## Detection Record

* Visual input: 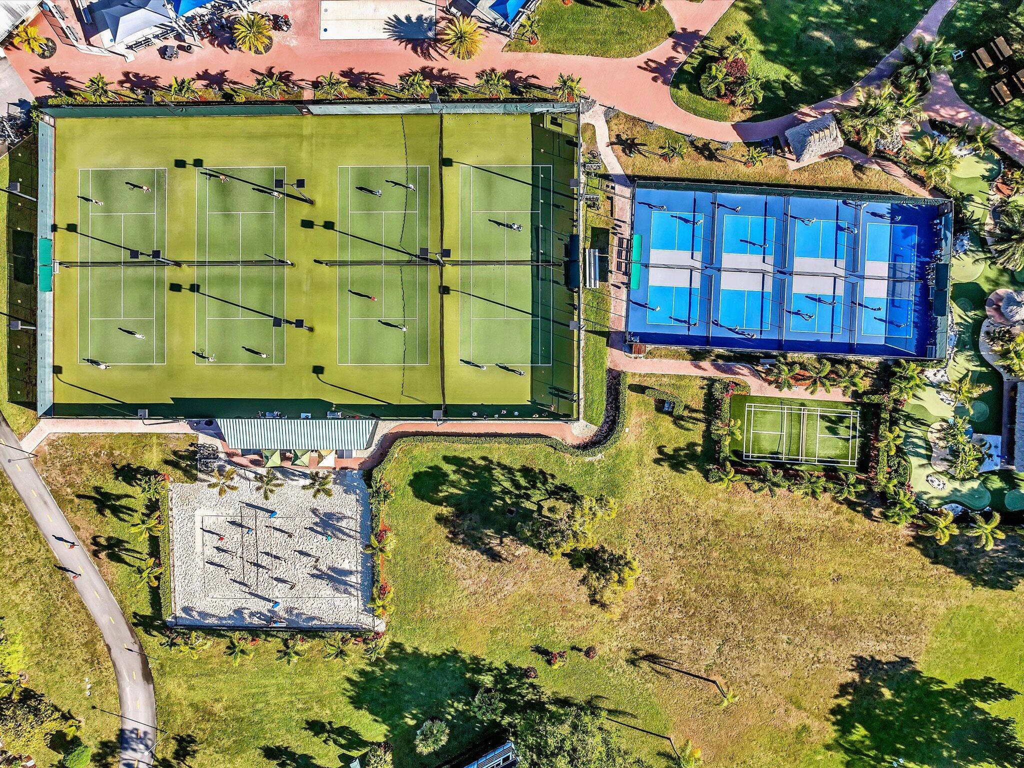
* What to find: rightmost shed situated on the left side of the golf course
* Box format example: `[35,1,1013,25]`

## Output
[781,112,846,166]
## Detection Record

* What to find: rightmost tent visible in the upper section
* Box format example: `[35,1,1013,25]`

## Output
[488,0,531,38]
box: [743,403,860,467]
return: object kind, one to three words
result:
sports court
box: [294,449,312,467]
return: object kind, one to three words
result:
umbrella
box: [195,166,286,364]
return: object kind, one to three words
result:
tennis court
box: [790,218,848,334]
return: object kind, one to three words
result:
sports court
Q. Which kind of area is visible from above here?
sports ground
